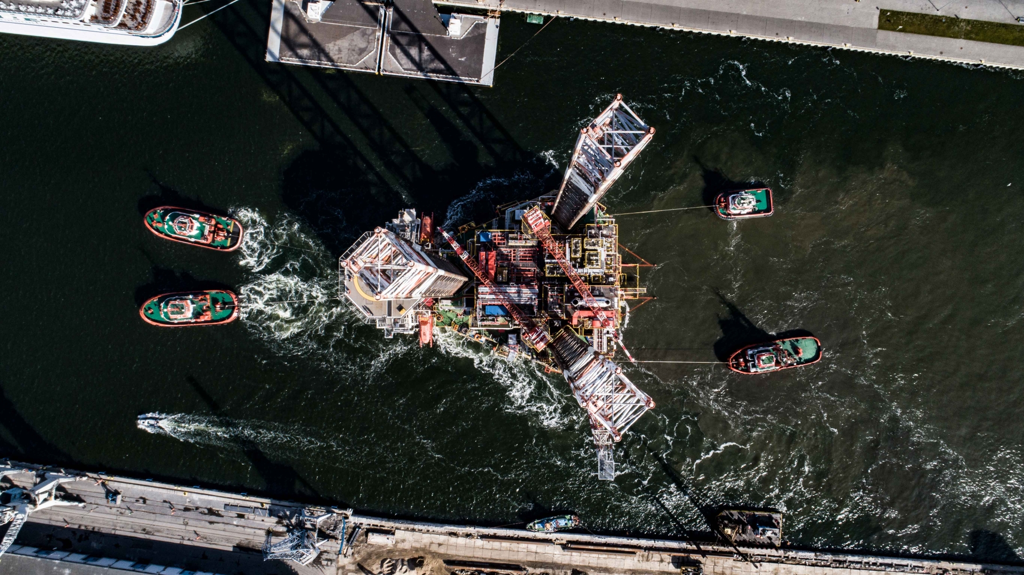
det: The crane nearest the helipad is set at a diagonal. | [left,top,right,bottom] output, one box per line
[438,227,552,353]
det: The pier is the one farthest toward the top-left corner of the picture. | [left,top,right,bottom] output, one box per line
[265,0,386,76]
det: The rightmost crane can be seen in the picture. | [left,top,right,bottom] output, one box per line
[519,202,635,364]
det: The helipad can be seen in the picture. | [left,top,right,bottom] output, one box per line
[339,231,427,323]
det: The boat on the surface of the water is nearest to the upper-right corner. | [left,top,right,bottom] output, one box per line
[712,186,773,220]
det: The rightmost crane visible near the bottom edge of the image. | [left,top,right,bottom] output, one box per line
[261,498,344,567]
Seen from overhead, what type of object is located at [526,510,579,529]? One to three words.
boat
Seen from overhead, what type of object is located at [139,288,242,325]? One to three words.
boat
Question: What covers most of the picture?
water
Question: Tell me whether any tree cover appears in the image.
No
